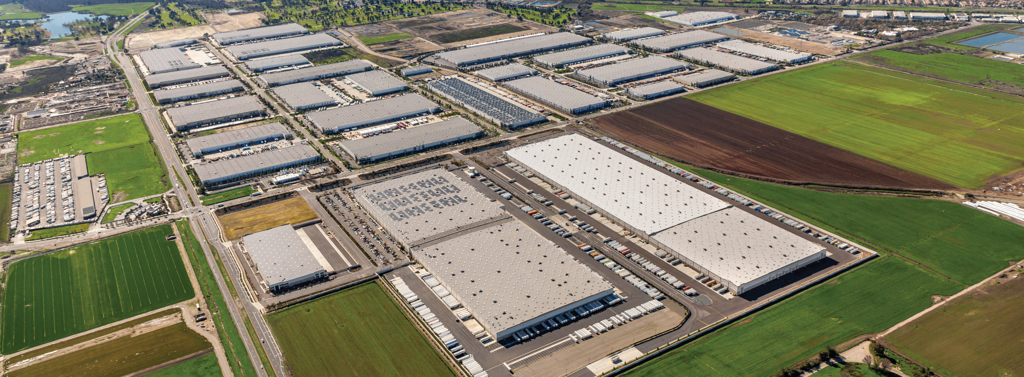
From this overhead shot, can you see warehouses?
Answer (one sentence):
Yes, there is a warehouse in the image.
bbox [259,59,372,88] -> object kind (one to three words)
building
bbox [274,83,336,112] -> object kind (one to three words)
building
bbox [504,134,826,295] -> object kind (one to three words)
warehouse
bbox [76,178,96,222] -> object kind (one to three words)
shed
